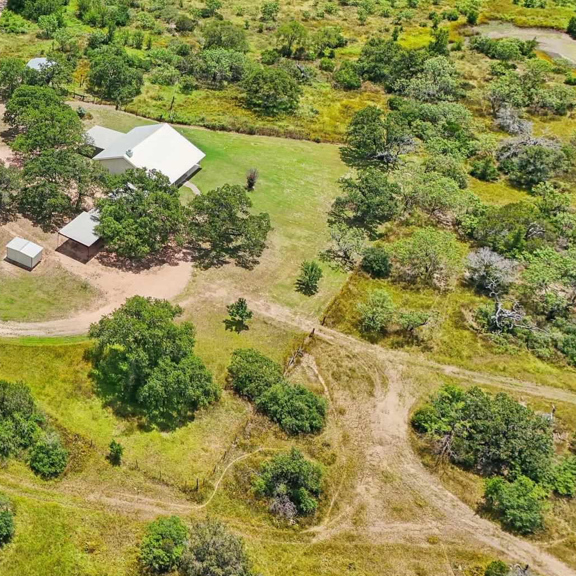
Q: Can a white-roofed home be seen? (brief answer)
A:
Yes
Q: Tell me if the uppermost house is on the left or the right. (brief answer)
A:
left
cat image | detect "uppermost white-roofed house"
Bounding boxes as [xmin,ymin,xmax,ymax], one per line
[74,123,206,195]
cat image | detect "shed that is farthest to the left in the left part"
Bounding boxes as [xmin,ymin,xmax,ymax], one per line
[6,241,42,267]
